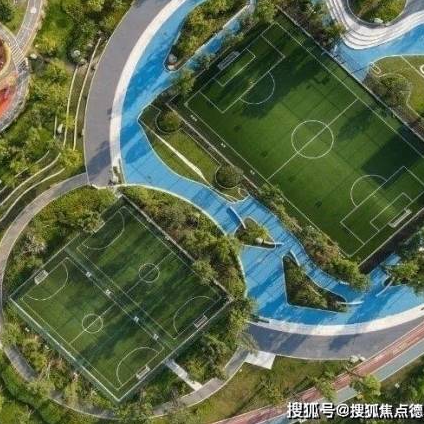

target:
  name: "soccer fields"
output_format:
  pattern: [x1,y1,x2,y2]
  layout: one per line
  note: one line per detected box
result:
[71,195,230,347]
[11,244,178,399]
[168,5,424,269]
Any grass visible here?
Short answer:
Yes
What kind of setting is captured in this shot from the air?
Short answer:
sports ground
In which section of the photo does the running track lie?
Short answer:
bottom right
